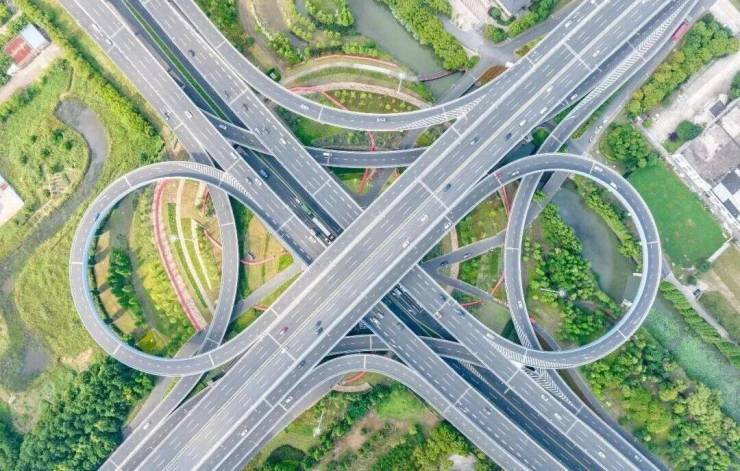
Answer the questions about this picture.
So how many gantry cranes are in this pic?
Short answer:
none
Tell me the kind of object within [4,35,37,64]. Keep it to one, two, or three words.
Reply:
house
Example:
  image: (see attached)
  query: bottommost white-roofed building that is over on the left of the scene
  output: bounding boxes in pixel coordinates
[0,164,32,227]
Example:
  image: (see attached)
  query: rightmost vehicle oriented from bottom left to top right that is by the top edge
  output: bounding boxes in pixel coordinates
[673,19,694,43]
